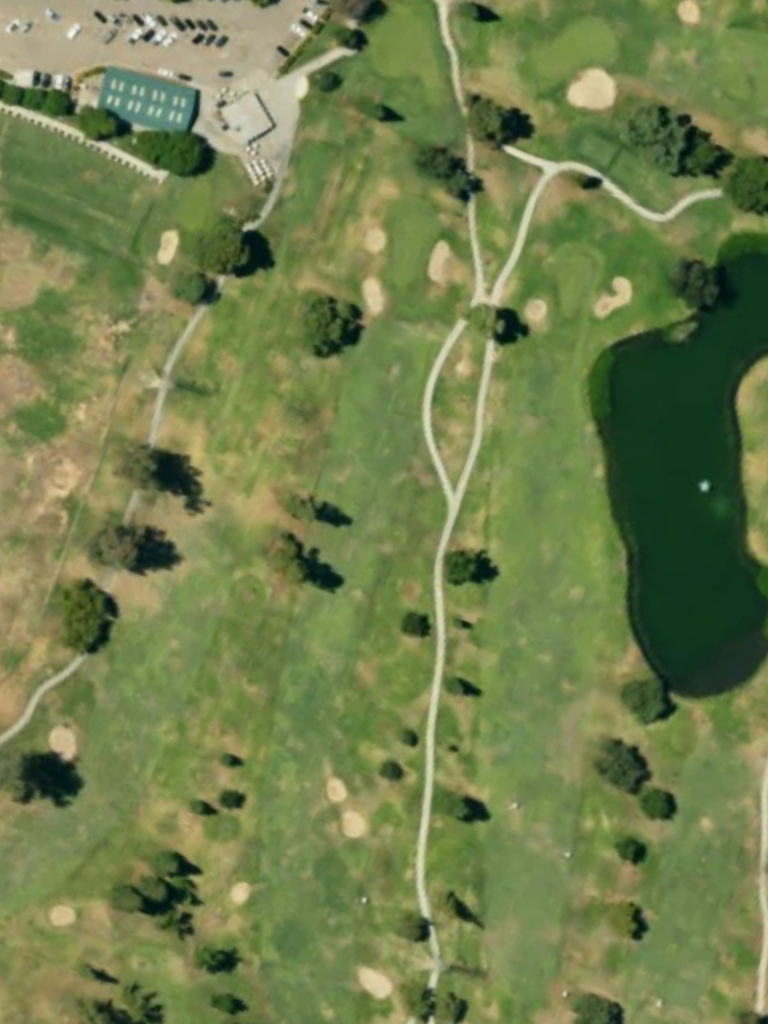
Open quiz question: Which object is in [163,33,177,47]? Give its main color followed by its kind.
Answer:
white vehicle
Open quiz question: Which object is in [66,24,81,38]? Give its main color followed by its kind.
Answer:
white vehicle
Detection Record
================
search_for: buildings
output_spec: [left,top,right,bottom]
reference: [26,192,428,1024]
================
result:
[98,66,198,132]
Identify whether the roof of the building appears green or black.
green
